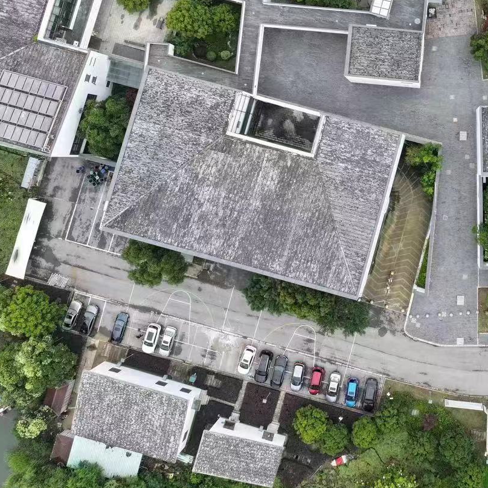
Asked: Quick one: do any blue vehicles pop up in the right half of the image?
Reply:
Yes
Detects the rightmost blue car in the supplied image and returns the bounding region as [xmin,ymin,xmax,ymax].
[344,376,360,407]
